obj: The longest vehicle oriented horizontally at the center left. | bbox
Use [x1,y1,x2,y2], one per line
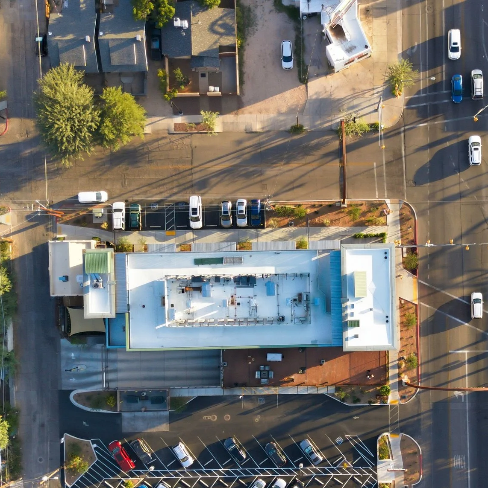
[77,190,108,203]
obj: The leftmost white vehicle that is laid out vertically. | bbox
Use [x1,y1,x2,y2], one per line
[113,201,126,231]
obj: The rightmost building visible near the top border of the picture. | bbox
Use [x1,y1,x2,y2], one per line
[321,0,370,70]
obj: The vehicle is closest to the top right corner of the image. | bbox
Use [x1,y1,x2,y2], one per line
[447,28,462,59]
